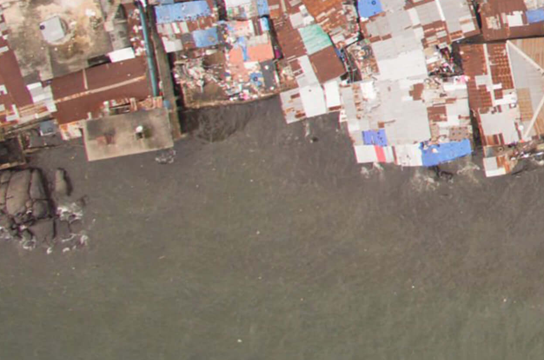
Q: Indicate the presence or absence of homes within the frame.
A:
Yes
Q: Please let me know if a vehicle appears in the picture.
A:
No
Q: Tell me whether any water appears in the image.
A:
Yes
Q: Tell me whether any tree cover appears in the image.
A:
No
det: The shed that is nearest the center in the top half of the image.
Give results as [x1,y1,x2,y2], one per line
[280,83,329,124]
